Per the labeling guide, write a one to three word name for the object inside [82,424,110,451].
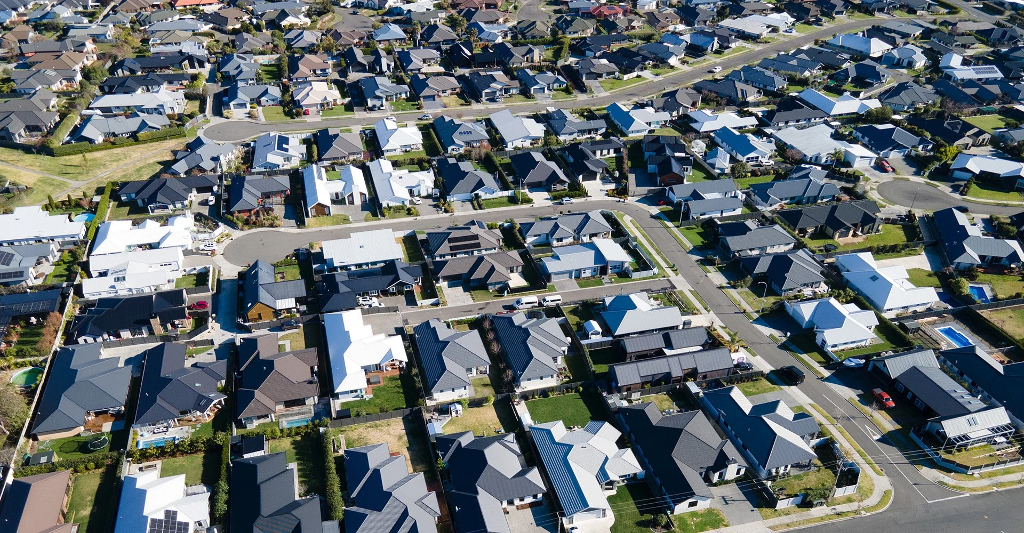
trampoline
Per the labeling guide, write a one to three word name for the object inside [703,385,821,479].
house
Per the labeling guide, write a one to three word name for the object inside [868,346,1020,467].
house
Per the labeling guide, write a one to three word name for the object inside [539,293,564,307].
vehicle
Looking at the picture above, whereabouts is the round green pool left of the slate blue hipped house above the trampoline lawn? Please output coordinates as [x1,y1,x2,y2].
[7,366,41,388]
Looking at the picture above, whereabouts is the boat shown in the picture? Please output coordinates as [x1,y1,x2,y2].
[832,357,870,371]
